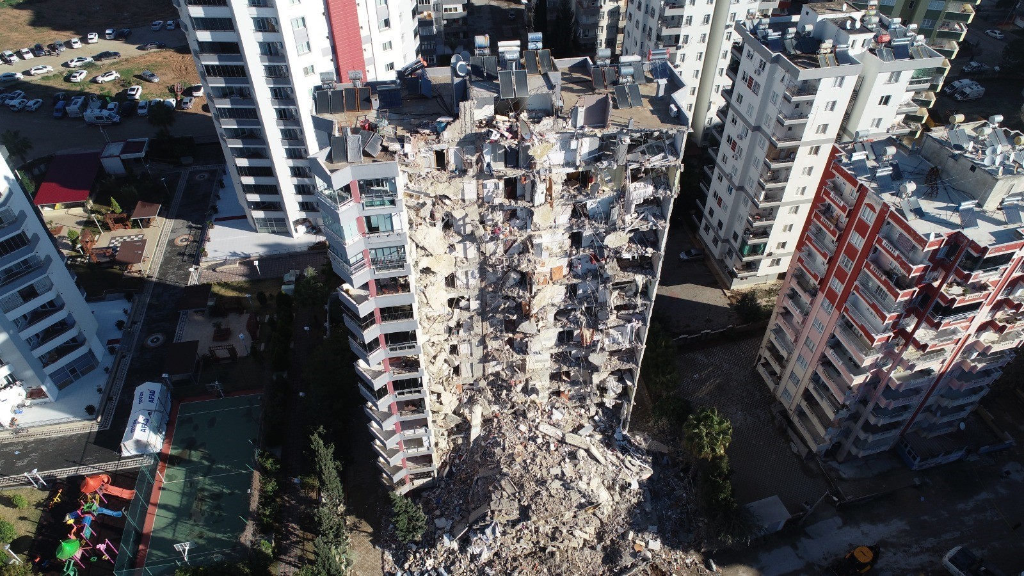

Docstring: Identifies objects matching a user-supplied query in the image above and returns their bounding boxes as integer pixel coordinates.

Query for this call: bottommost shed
[742,496,792,544]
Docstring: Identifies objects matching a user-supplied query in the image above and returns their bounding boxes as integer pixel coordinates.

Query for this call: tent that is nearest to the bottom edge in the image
[110,372,179,460]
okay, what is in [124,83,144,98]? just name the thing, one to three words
car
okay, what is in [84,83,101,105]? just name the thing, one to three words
vehicle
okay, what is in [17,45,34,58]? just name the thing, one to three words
vehicle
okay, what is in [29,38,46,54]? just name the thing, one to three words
car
